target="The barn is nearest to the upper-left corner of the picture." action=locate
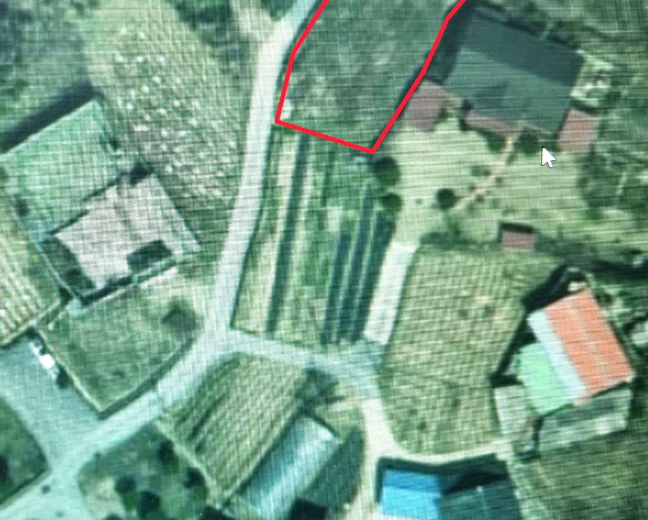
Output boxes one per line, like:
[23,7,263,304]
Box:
[0,100,133,240]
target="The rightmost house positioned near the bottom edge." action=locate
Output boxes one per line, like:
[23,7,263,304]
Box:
[442,476,521,520]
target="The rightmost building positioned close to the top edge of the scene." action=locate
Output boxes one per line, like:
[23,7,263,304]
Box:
[446,17,583,137]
